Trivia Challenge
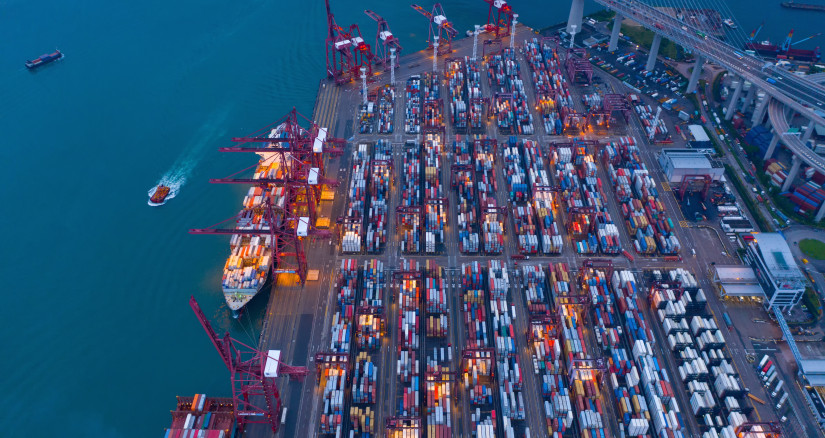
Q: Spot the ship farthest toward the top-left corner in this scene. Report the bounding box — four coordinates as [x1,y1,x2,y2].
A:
[24,48,60,68]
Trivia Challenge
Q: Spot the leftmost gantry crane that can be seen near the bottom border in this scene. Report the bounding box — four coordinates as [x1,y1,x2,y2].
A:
[183,298,305,432]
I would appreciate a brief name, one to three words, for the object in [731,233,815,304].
building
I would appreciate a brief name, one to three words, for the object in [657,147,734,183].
building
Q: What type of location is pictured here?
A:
port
